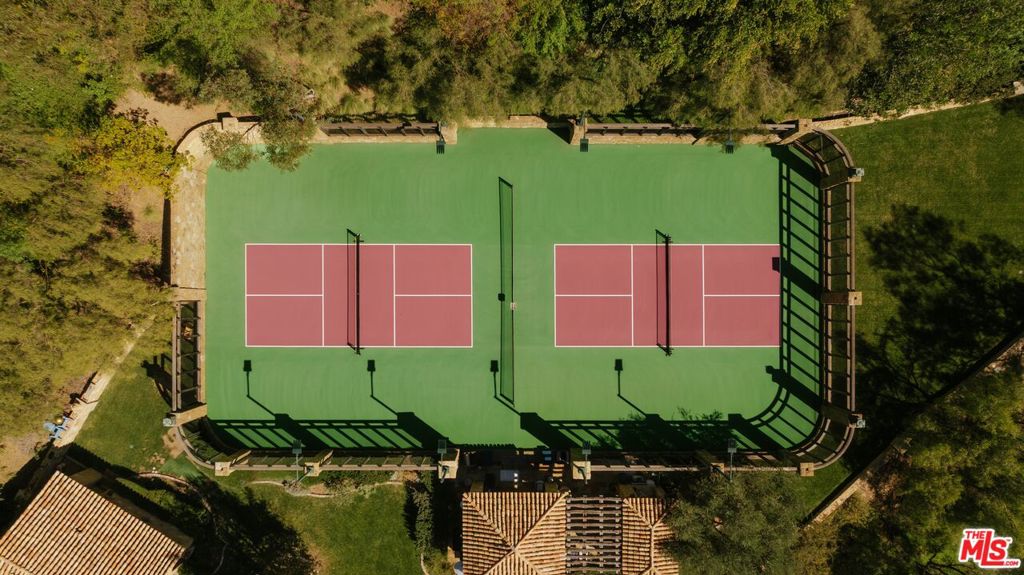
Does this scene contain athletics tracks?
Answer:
No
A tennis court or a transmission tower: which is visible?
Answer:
tennis court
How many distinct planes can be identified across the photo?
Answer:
zero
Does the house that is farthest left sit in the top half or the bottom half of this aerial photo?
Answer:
bottom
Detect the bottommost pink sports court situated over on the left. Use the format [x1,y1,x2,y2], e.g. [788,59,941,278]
[245,243,472,348]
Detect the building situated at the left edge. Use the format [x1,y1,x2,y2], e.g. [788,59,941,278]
[0,466,205,575]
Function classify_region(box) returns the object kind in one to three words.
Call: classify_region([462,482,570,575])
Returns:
building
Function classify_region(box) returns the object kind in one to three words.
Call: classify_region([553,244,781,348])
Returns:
sports court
